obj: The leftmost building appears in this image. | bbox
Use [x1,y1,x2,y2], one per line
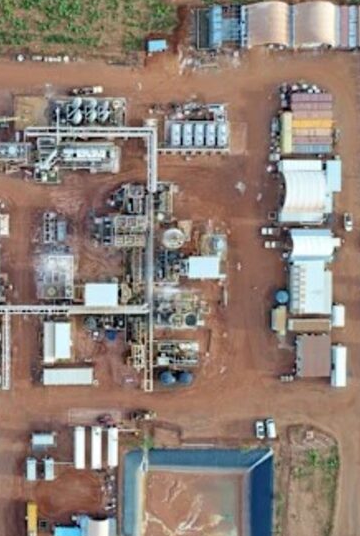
[0,161,30,176]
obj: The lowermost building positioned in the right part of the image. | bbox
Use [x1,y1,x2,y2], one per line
[293,335,331,376]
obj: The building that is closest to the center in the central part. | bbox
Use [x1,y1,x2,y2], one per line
[186,256,219,278]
